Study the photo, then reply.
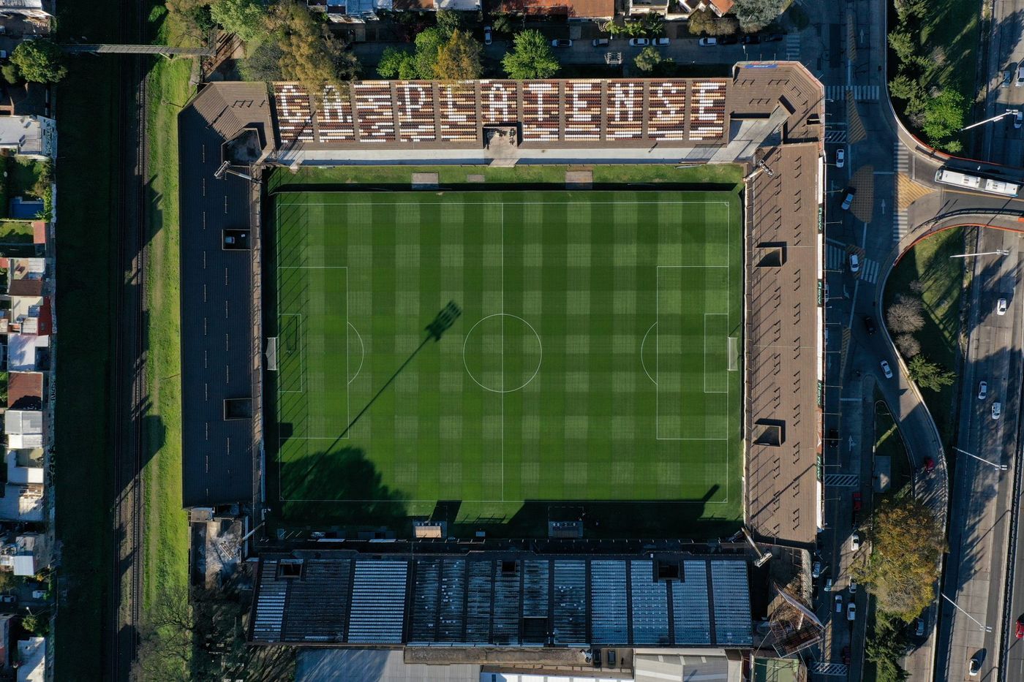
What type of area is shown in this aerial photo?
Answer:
sports ground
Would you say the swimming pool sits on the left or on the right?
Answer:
left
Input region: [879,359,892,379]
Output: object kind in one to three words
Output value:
vehicle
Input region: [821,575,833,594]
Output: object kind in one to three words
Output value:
vehicle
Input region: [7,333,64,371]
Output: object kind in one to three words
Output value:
house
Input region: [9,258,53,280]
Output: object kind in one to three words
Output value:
house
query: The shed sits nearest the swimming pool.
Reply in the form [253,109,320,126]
[33,222,53,245]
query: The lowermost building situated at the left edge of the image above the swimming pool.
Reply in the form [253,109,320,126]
[0,115,53,162]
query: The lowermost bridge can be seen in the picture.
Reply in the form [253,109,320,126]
[894,145,1024,265]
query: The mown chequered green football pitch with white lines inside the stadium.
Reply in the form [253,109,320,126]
[277,202,730,520]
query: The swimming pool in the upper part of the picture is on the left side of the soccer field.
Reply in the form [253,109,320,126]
[10,197,46,219]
